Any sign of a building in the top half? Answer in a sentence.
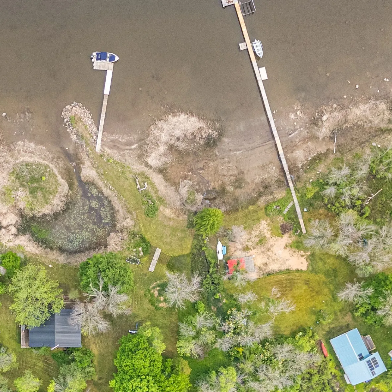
No, there's no building to be seen in the top half.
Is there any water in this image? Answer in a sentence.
Yes, some water is visible.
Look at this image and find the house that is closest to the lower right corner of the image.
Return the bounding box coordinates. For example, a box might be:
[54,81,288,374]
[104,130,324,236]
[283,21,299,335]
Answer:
[328,329,386,387]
